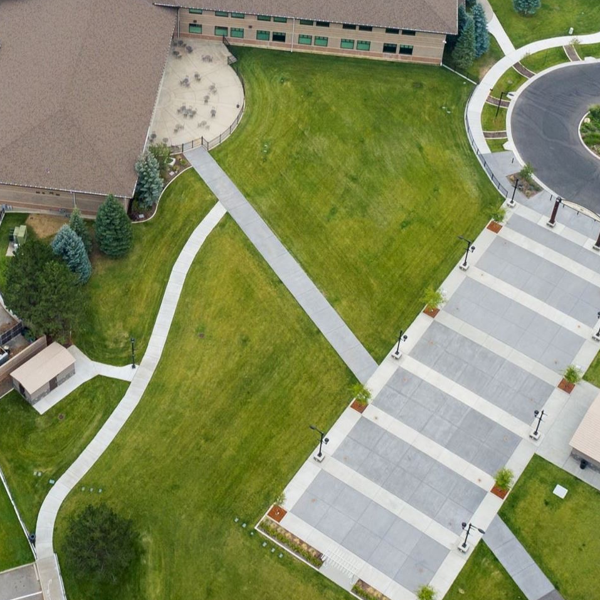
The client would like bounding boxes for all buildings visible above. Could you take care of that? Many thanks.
[569,394,600,472]
[0,0,459,220]
[12,343,75,405]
